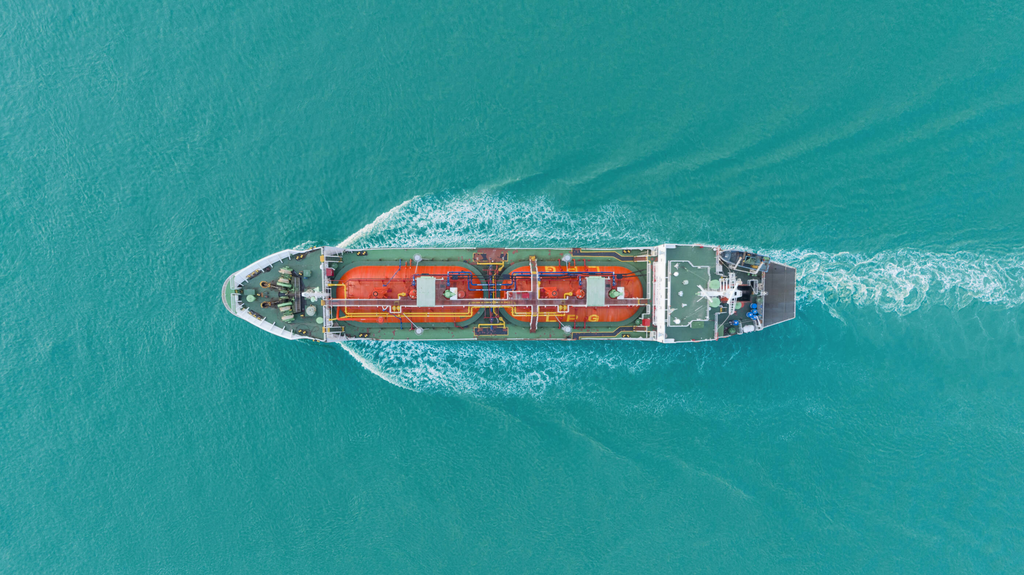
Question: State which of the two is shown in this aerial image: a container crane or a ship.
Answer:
ship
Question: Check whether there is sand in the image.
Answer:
No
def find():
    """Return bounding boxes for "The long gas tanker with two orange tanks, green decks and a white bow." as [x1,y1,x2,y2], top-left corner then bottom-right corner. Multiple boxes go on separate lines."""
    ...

[222,244,797,344]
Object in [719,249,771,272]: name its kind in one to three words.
boat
